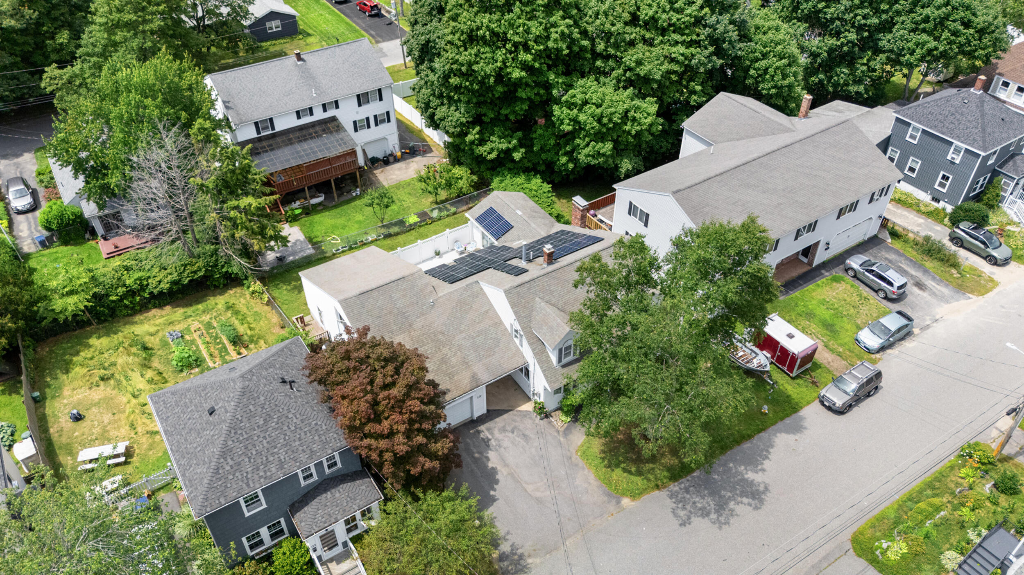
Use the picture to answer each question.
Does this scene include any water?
No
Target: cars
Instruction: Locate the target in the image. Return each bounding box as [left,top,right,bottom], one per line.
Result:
[357,0,378,15]
[4,172,37,210]
[946,223,1017,263]
[816,358,888,415]
[854,310,920,352]
[847,259,914,302]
